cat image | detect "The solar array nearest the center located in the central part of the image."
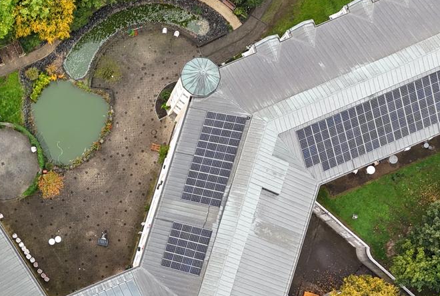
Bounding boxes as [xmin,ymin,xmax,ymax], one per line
[181,112,246,206]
